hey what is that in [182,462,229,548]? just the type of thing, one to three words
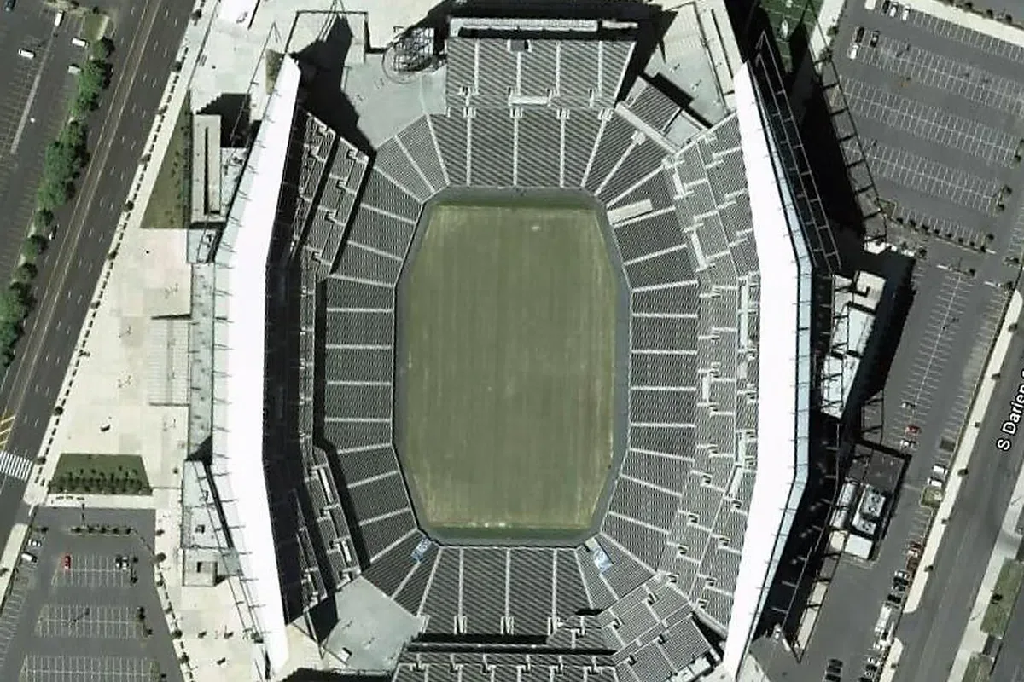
building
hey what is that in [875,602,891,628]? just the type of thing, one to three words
vehicle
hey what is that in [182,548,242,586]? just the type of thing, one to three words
building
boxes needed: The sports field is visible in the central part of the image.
[404,203,620,525]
